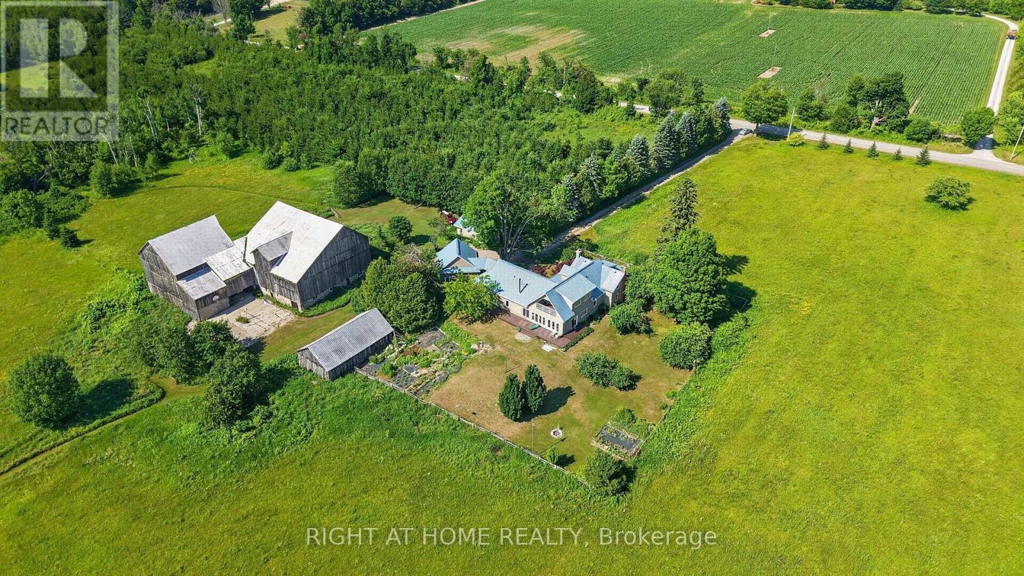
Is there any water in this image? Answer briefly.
No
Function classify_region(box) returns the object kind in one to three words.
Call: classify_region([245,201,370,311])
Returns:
barn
